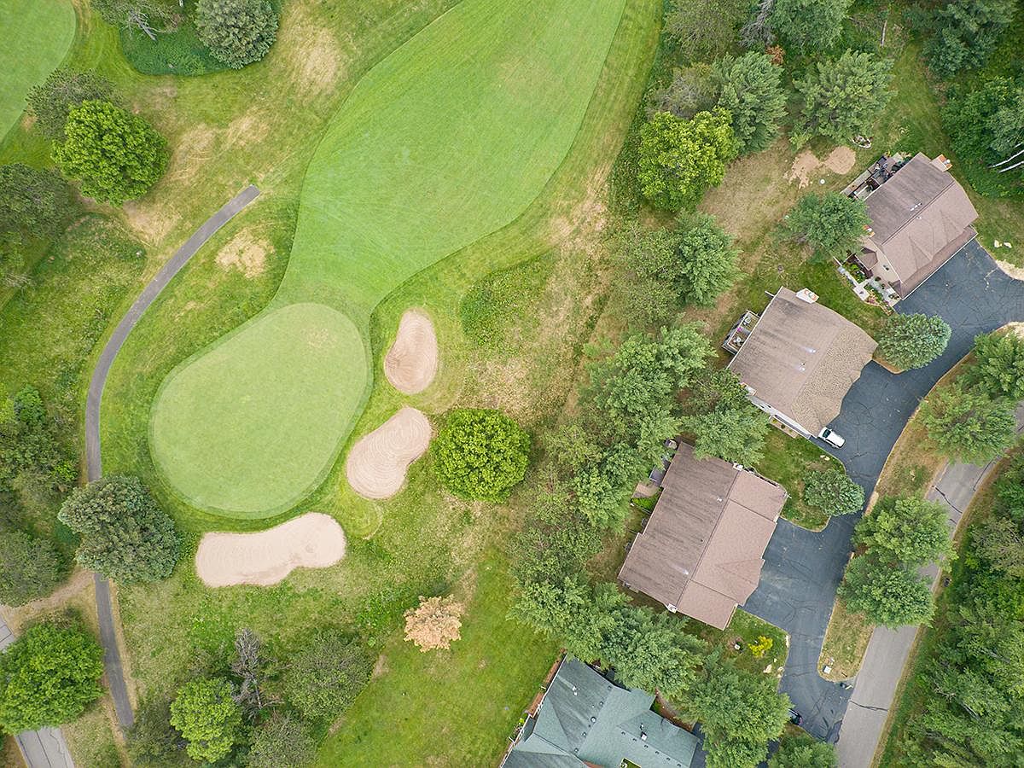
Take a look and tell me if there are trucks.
No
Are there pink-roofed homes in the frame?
No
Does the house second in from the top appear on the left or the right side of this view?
right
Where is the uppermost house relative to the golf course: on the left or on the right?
to the right of it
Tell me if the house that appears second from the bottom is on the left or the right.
right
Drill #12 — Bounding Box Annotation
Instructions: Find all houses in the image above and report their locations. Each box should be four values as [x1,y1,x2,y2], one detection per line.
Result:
[617,441,787,630]
[841,152,979,300]
[502,651,699,768]
[721,286,876,437]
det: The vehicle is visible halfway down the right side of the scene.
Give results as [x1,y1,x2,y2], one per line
[817,428,845,450]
